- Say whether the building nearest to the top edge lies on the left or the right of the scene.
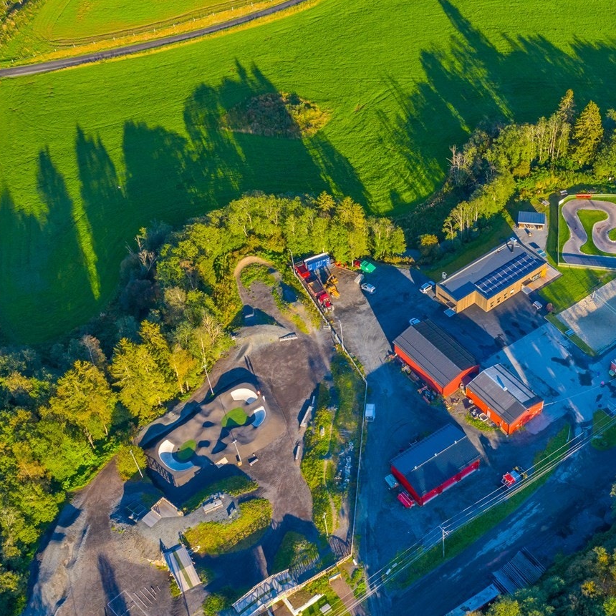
right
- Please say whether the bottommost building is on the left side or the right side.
right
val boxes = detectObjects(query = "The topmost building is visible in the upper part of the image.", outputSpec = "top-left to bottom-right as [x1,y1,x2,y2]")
[518,211,546,231]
